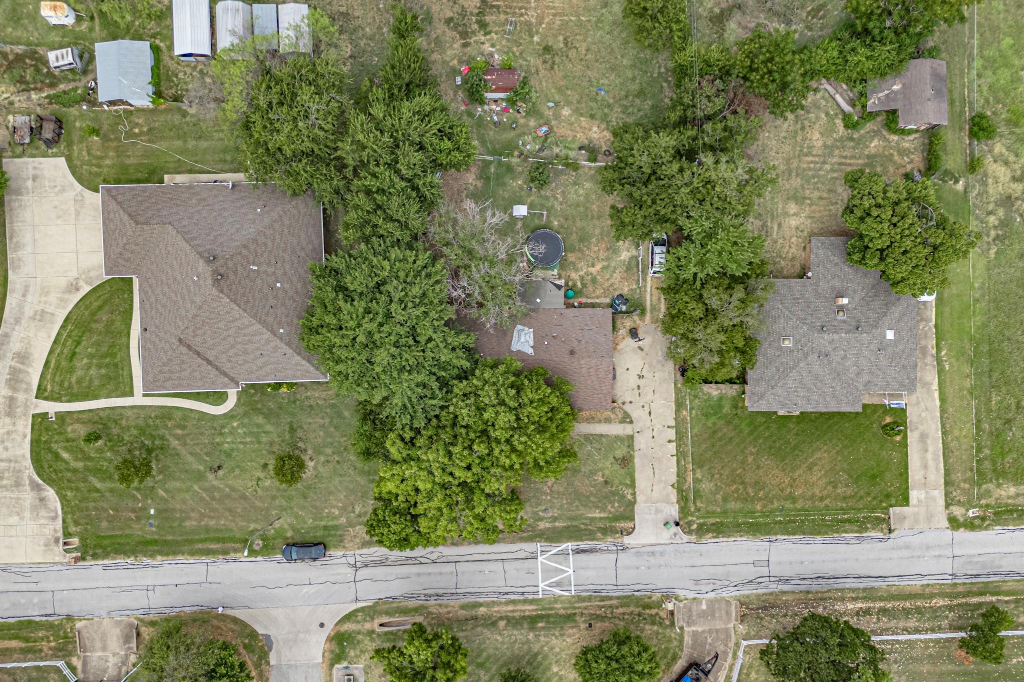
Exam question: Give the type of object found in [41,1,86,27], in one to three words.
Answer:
trailer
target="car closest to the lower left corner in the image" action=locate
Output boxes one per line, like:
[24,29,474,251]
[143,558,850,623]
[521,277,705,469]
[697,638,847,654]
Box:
[282,545,323,565]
